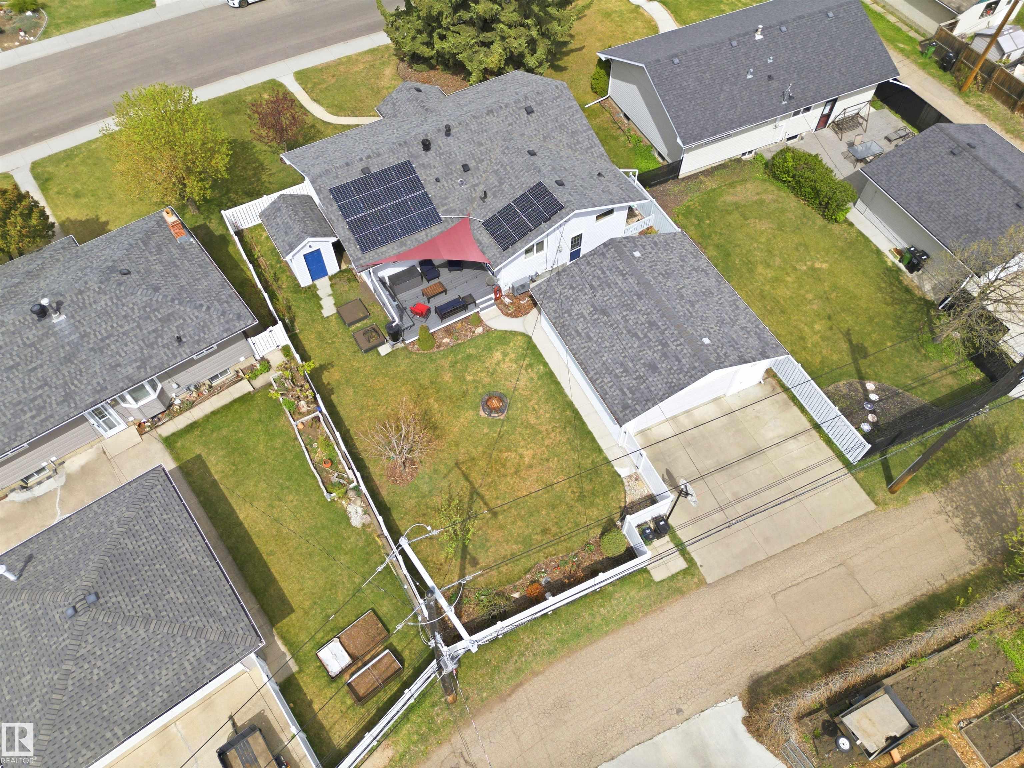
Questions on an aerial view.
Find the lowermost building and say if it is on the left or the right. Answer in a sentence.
It is on the left.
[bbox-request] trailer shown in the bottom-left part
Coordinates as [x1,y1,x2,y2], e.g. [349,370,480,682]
[213,714,290,768]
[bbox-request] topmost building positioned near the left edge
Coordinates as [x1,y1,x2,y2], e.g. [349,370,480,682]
[0,205,261,496]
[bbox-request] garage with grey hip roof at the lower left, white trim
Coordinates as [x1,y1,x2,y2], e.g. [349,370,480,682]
[0,461,270,768]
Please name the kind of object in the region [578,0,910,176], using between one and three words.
house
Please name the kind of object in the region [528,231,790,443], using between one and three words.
building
